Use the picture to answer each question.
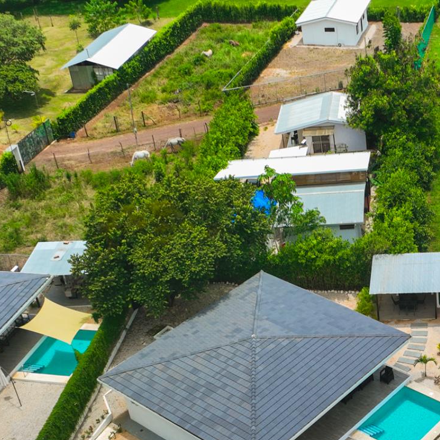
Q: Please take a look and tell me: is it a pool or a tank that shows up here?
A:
pool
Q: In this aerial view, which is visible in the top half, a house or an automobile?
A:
house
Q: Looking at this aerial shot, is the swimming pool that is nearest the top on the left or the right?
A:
left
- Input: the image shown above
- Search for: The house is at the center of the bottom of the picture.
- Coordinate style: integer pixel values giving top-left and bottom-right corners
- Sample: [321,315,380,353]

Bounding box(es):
[98,270,413,440]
